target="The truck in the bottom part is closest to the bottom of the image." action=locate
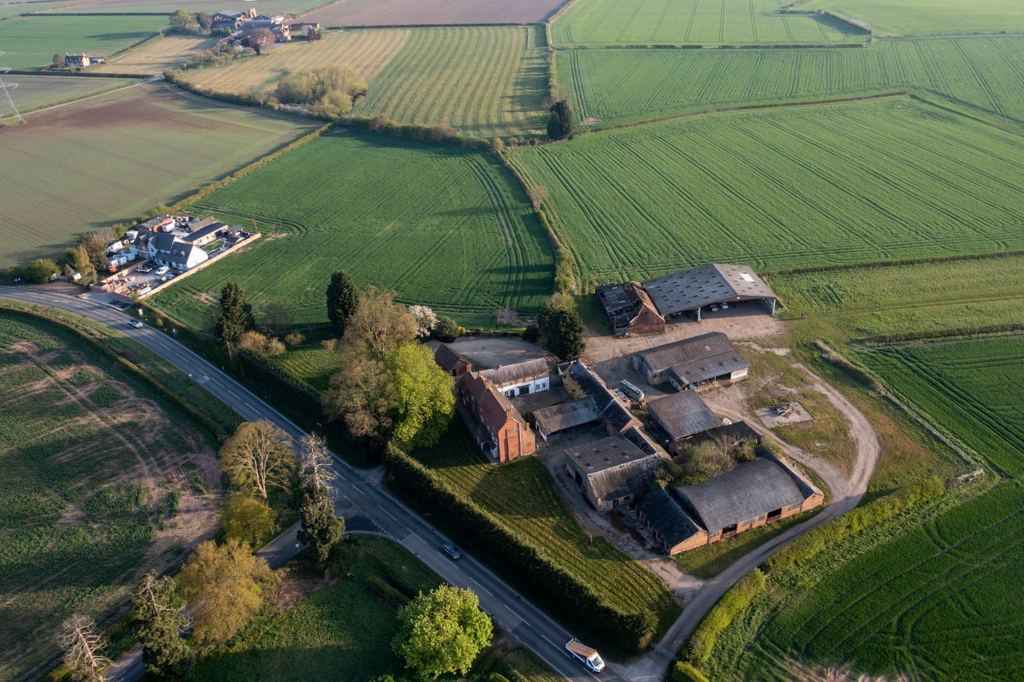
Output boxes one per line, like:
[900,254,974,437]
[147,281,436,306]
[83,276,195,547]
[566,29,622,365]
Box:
[568,646,604,673]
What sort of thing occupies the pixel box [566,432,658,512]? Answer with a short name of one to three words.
building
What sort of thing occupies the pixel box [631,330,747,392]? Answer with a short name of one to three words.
barn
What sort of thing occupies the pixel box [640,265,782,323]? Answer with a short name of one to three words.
barn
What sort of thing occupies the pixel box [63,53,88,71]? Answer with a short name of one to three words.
house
